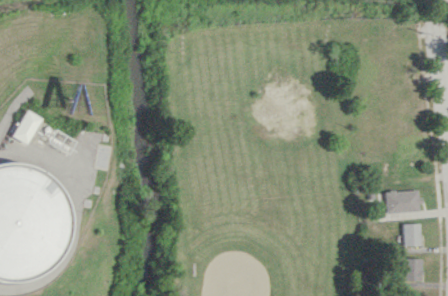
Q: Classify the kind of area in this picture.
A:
sports ground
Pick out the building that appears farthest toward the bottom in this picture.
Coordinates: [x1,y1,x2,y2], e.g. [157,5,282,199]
[407,258,424,282]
